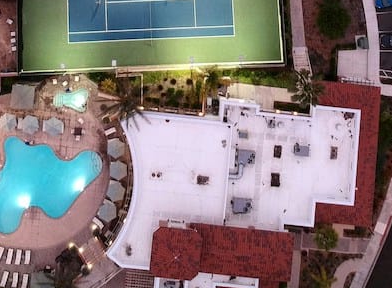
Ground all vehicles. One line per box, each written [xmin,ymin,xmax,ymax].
[379,33,392,48]
[374,0,392,9]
